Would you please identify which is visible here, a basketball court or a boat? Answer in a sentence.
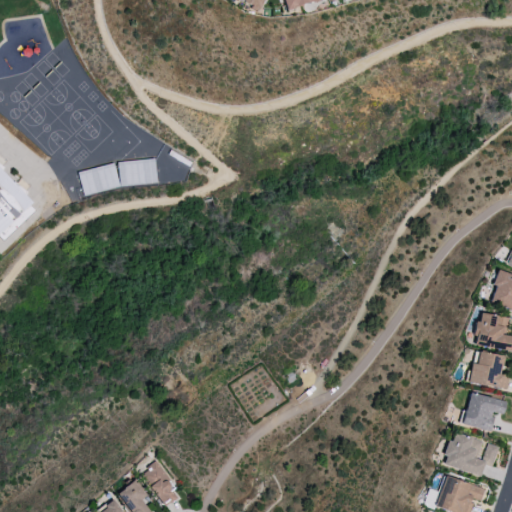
Visible in the photo is a basketball court.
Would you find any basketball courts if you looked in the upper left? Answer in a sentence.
Yes, I can see a basketball court in the upper left.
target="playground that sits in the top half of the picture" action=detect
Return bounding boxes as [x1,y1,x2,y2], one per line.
[0,14,56,79]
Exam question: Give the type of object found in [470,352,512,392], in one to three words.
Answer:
house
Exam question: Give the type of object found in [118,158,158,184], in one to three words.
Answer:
building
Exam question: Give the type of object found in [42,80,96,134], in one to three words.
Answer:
basketball court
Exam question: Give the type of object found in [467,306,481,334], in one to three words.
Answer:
swimming pool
